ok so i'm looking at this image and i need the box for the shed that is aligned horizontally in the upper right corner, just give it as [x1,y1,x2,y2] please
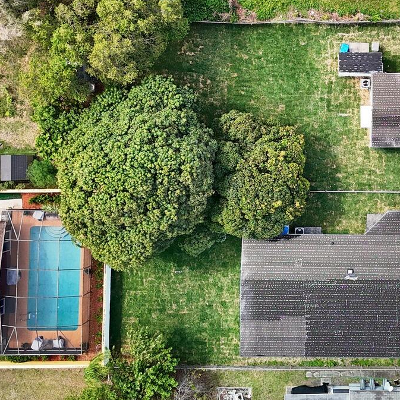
[339,51,383,72]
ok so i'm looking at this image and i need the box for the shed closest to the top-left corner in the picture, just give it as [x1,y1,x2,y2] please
[0,154,33,181]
